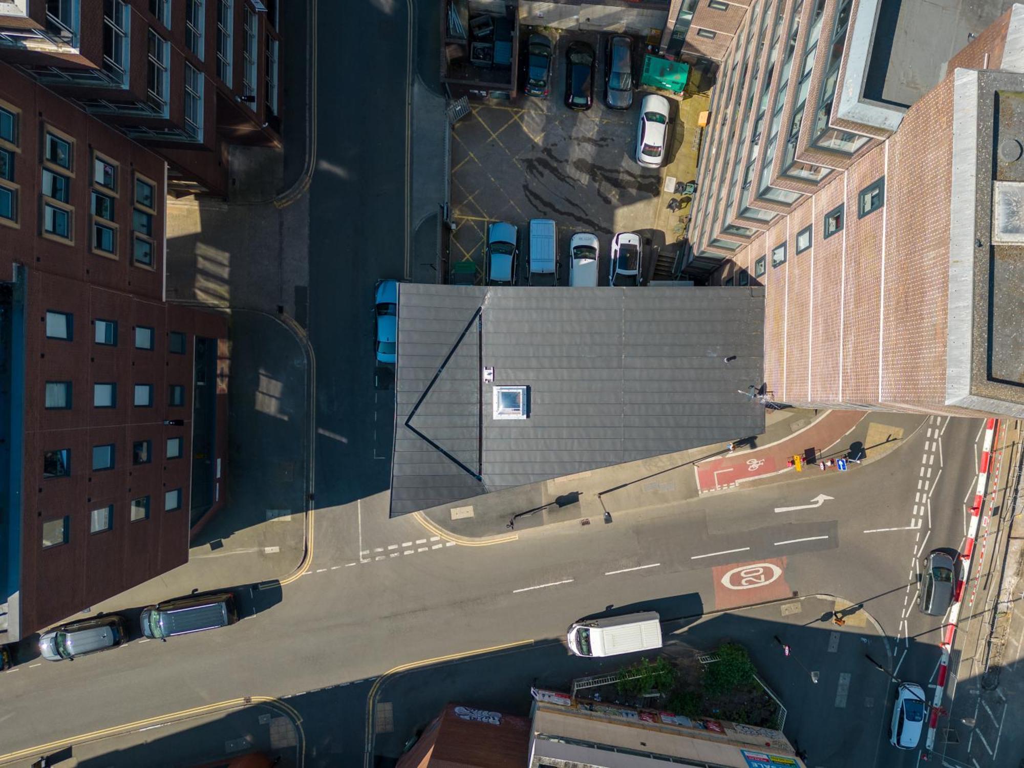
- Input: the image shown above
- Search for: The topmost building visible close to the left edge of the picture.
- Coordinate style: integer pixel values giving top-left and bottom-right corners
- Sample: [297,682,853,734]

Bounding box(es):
[0,0,284,198]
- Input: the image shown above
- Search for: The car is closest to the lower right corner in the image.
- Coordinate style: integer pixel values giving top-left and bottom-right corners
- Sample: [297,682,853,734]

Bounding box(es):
[886,680,929,749]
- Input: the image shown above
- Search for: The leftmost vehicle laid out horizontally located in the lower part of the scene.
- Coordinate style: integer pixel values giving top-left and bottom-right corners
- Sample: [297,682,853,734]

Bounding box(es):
[44,615,129,661]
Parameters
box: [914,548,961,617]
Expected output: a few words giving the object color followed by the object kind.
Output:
gray car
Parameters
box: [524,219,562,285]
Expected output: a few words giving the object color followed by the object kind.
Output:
blue van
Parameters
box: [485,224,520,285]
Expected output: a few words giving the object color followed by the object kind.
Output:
blue car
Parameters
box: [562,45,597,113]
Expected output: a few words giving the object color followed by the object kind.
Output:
black car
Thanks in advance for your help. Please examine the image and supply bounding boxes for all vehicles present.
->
[485,224,520,285]
[562,45,597,113]
[44,615,129,661]
[372,282,398,362]
[146,593,237,641]
[602,33,638,112]
[609,231,646,286]
[0,641,16,671]
[566,233,602,285]
[524,219,562,285]
[886,680,929,749]
[571,609,660,659]
[914,548,961,617]
[635,95,672,172]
